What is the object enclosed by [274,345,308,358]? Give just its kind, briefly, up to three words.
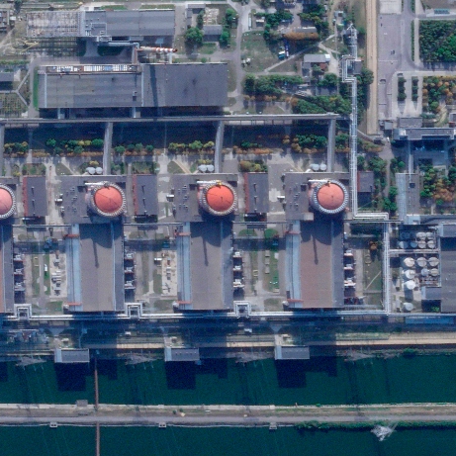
building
